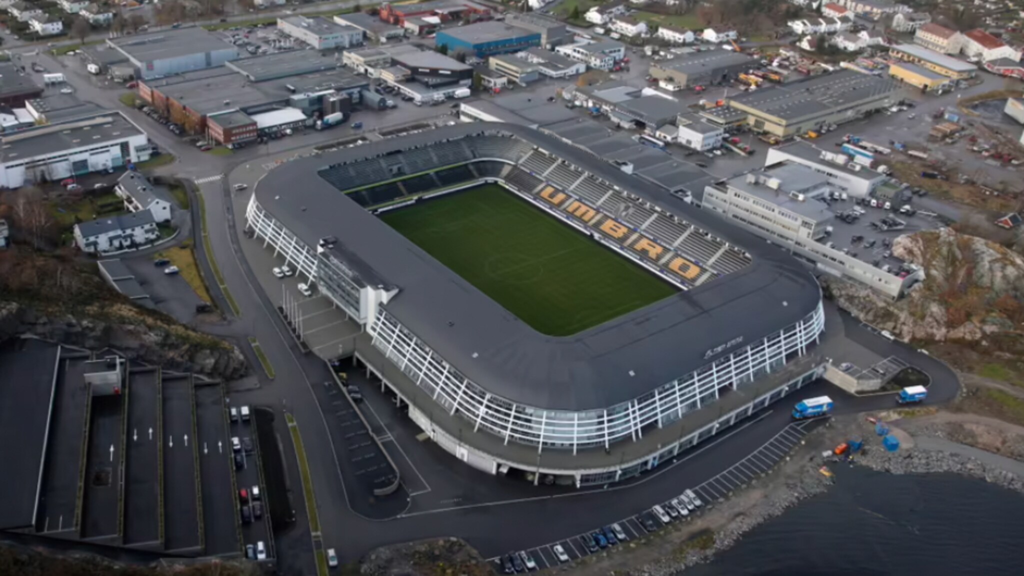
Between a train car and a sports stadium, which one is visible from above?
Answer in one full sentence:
Visible in the photo is a sports stadium.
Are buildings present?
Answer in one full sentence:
Yes, the photo shows a building.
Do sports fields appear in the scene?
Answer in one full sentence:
Yes, a sports field appears in the view.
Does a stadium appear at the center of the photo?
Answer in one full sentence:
Yes, you'll find a stadium at the center of the photo.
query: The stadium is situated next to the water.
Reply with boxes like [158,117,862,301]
[206,114,851,489]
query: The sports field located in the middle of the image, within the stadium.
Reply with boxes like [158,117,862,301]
[370,184,679,336]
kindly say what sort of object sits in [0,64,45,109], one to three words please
building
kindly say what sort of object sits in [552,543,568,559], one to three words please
car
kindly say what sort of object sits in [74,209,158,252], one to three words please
house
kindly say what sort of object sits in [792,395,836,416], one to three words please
truck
